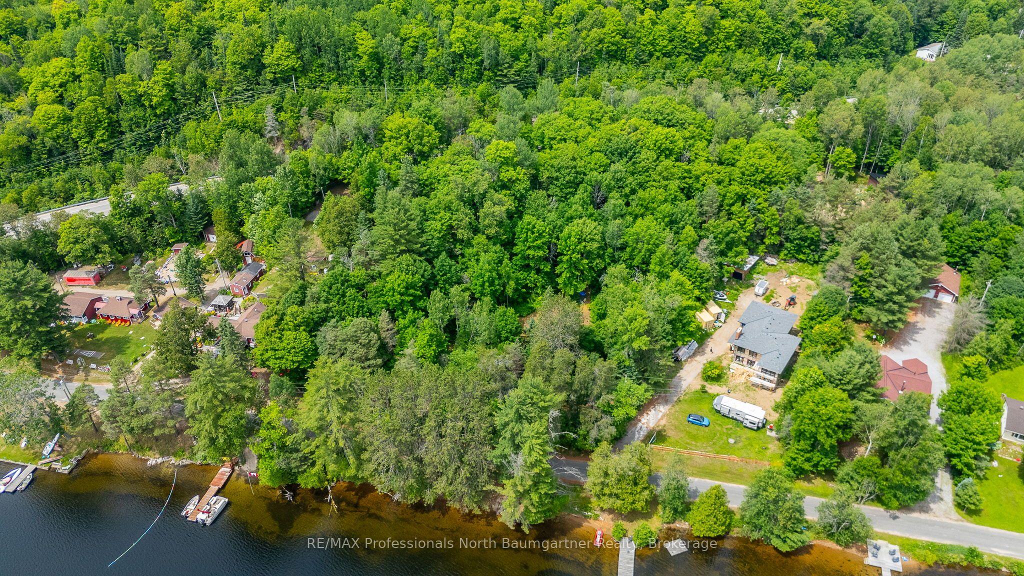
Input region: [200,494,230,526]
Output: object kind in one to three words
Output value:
boat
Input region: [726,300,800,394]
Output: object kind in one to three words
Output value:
house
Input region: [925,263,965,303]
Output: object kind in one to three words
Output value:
building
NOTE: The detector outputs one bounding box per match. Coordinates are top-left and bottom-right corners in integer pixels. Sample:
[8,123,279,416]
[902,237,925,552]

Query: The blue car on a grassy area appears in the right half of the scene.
[687,411,710,427]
